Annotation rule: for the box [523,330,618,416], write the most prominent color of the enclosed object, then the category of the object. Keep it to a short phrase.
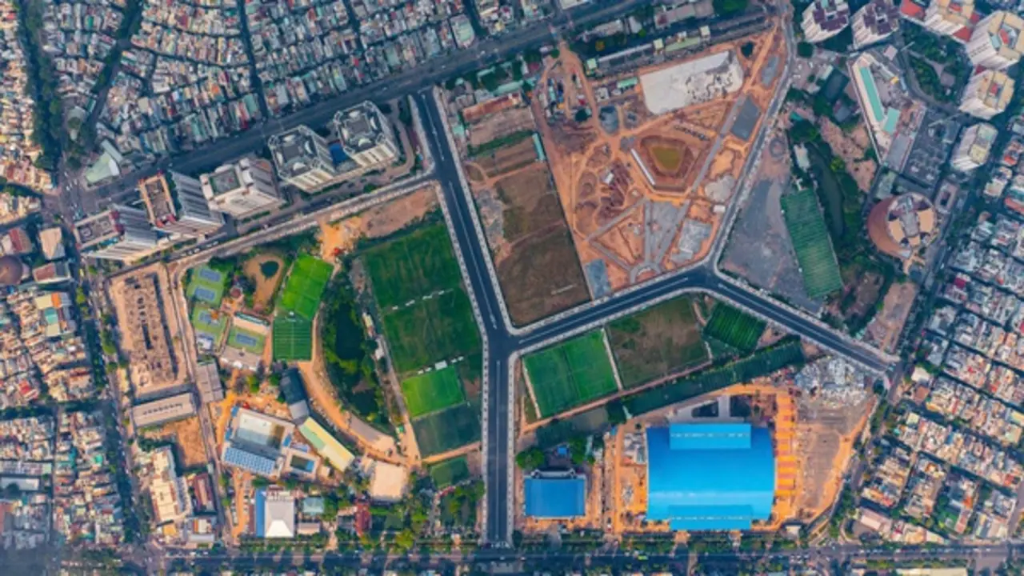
green soccer field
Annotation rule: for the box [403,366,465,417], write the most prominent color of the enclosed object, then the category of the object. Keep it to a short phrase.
green soccer field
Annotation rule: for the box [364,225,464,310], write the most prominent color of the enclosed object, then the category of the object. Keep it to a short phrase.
green sports field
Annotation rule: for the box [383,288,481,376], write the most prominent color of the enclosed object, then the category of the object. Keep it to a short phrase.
green sports field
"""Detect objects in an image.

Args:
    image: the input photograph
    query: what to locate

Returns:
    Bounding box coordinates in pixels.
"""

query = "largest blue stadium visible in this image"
[646,421,777,532]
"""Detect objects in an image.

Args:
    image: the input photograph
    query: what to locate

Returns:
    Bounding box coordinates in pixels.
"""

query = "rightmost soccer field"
[780,188,844,299]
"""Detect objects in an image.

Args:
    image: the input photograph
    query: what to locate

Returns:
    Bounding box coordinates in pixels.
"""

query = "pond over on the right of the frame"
[634,134,702,190]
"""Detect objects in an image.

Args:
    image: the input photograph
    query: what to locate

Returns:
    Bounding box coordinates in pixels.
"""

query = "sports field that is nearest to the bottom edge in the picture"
[431,455,470,487]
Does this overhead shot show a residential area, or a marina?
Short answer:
residential area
